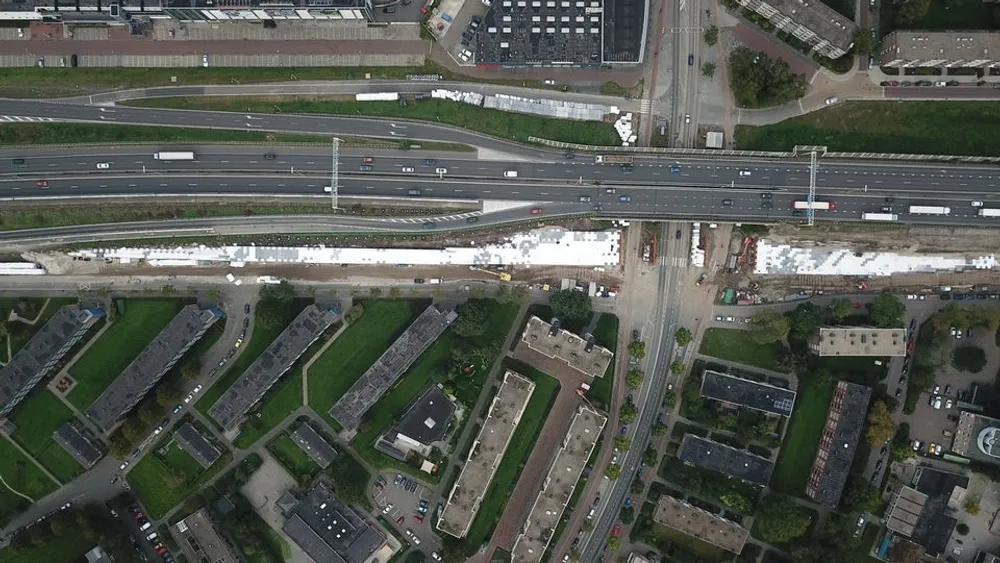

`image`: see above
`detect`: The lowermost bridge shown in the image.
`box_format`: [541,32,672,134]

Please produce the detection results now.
[591,146,770,227]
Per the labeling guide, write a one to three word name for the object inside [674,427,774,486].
building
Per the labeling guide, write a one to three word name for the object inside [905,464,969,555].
building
